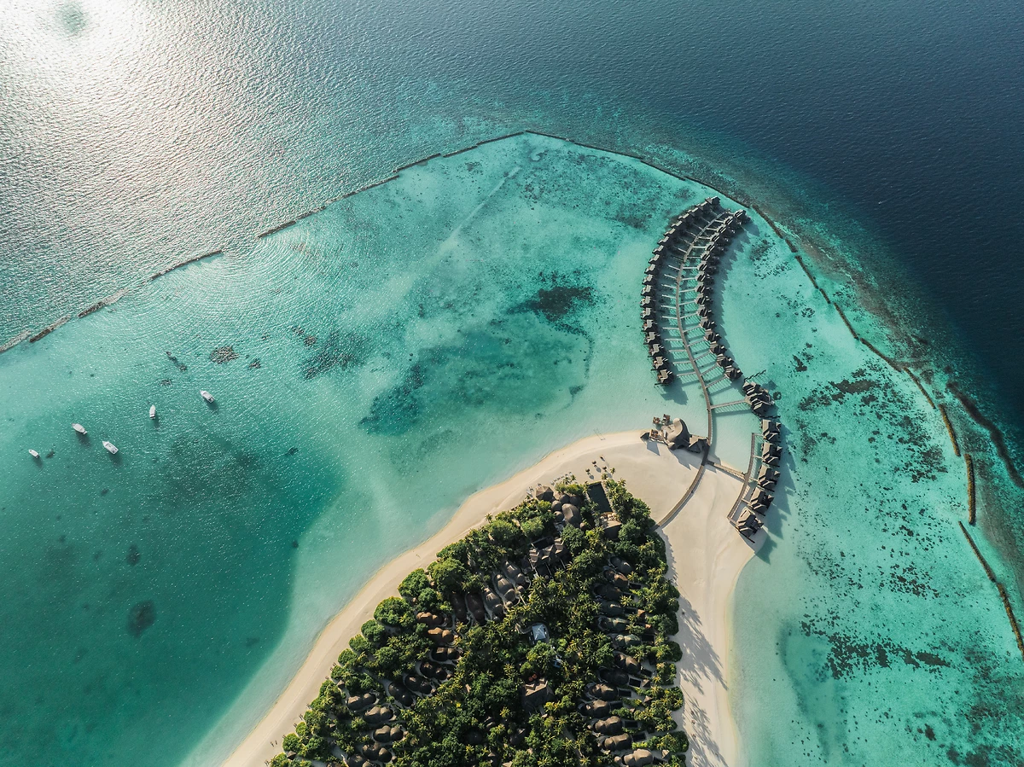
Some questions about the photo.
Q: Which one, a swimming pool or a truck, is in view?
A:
swimming pool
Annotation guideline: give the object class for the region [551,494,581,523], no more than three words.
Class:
building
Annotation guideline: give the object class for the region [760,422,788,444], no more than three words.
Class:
house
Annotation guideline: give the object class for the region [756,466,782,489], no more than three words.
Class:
house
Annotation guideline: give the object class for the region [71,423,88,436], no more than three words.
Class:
boat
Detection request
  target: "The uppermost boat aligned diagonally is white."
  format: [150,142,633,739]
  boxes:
[200,390,216,404]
